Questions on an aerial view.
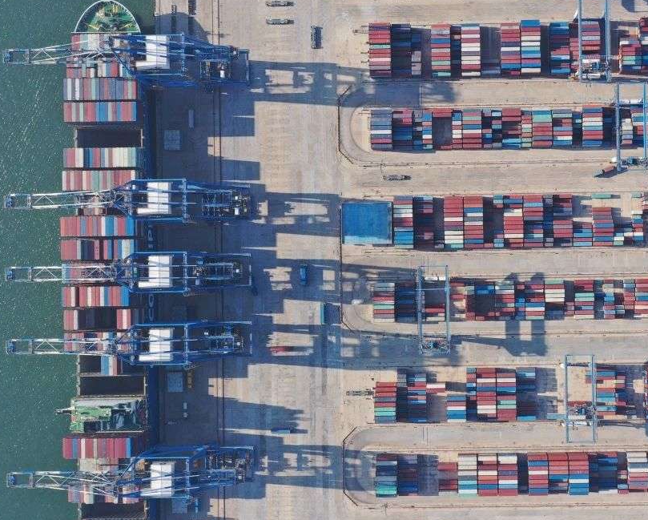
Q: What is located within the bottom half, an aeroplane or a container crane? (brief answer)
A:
container crane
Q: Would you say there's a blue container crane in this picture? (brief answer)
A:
Yes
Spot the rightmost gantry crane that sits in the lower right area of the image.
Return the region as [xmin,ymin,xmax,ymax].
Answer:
[558,355,598,443]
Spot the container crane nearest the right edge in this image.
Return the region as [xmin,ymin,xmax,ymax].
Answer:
[607,82,648,170]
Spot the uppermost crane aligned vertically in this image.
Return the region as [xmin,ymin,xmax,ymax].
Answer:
[570,0,611,83]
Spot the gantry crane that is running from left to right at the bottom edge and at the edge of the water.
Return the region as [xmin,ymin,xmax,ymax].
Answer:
[6,433,255,501]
